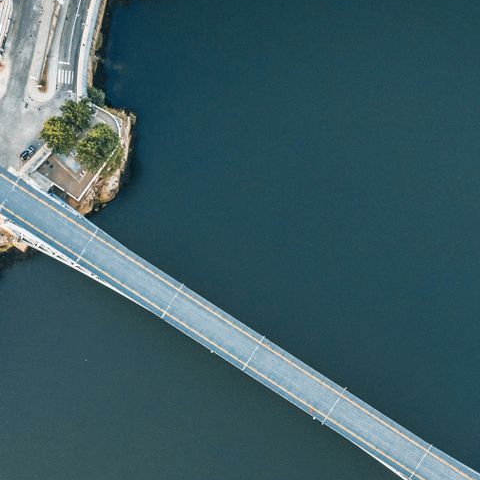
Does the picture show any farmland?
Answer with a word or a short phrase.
No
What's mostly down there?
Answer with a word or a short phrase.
water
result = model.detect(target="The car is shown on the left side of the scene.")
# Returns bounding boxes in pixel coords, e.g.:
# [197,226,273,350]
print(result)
[20,145,35,159]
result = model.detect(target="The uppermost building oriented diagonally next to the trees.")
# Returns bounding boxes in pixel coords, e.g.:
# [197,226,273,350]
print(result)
[21,145,54,177]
